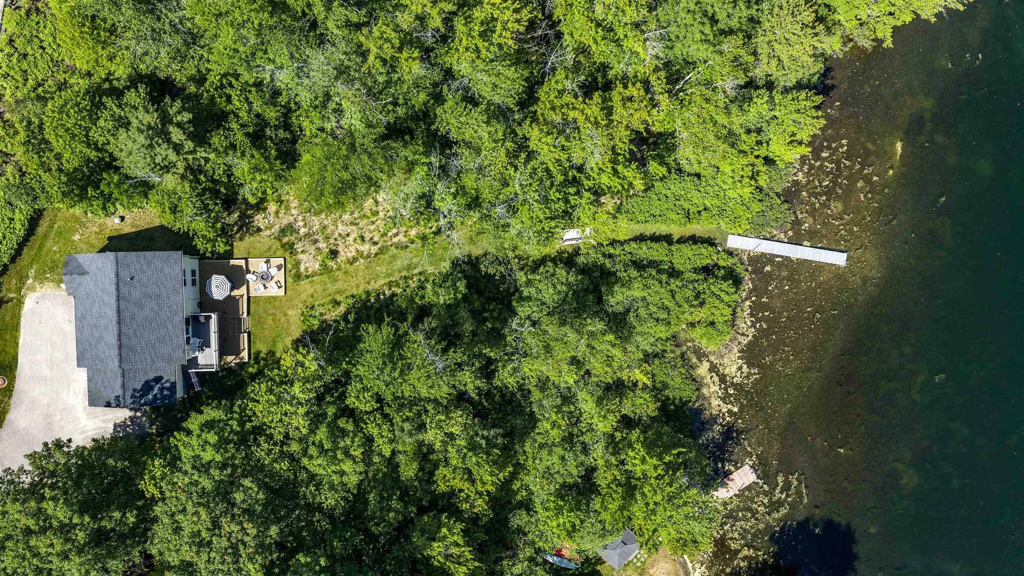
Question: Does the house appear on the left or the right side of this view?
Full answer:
The house appears in the left half of the scene.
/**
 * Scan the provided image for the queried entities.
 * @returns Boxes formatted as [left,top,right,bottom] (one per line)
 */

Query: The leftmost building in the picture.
[62,251,201,408]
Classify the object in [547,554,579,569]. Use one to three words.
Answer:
boat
